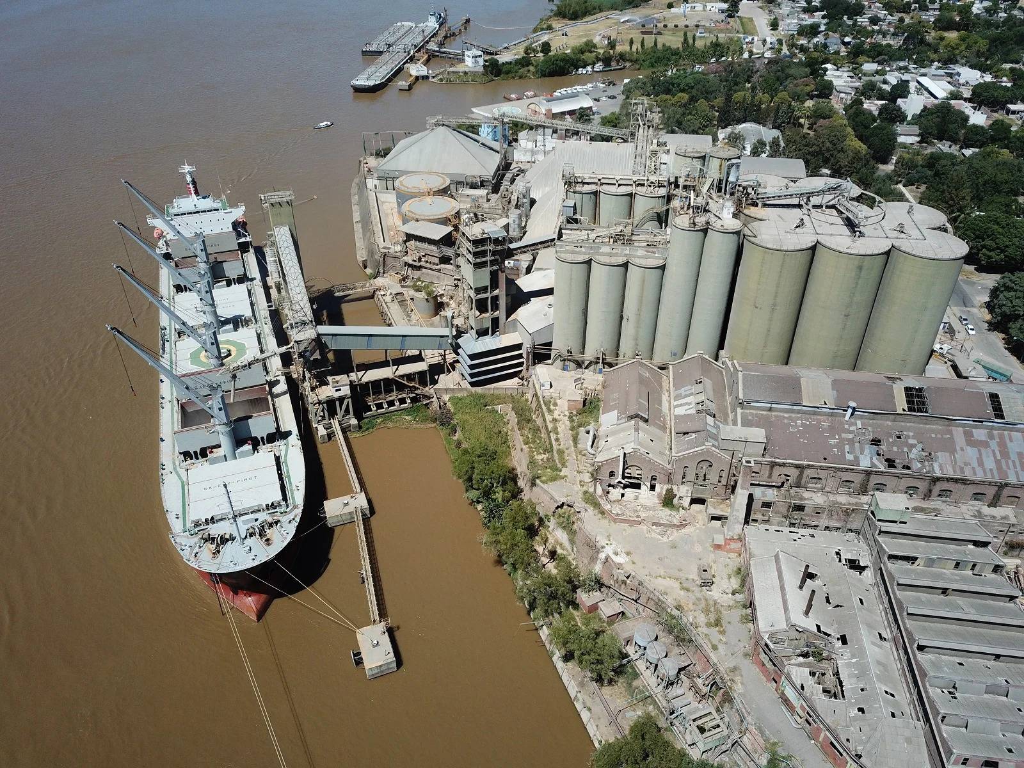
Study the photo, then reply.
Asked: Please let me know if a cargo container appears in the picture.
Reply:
Yes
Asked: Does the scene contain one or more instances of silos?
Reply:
Yes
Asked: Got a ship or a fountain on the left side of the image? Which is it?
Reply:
ship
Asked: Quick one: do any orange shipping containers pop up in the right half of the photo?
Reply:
No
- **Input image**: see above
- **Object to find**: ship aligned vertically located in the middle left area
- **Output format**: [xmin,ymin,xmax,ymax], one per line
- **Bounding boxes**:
[96,152,307,621]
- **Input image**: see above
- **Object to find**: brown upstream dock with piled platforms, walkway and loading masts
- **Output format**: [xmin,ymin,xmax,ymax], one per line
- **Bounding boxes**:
[397,0,500,95]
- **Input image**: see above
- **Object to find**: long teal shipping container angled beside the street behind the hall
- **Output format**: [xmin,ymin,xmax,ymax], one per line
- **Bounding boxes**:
[973,356,1015,384]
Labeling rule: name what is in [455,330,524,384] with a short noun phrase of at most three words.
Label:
building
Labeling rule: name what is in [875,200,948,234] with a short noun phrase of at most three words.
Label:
silo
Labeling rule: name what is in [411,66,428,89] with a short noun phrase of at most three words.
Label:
building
